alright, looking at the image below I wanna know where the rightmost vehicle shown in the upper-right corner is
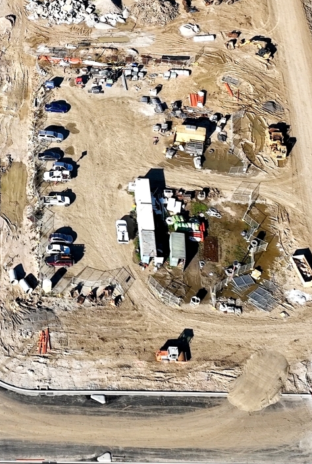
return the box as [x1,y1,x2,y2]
[231,36,281,62]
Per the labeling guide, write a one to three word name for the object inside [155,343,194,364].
work vehicle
